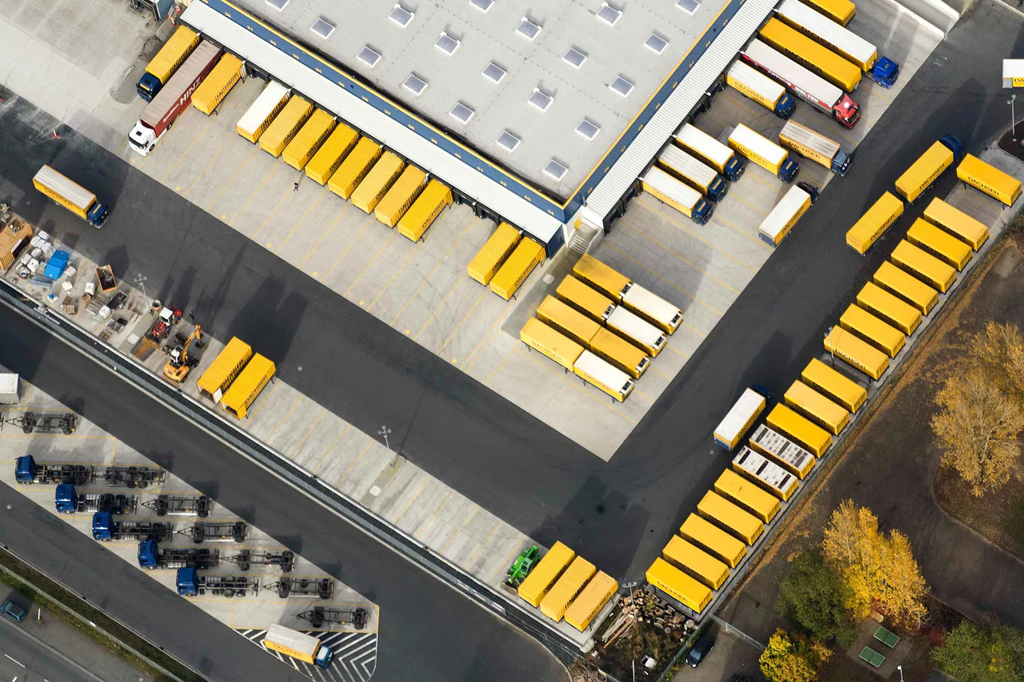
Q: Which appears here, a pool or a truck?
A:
truck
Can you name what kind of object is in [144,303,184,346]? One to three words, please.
work vehicle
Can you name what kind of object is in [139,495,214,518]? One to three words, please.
trailer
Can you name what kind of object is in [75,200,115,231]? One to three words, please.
truck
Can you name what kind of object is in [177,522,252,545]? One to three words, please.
trailer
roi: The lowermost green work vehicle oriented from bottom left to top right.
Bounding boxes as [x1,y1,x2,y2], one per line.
[501,541,545,593]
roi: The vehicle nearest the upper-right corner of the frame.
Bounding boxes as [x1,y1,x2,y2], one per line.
[1003,60,1024,92]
